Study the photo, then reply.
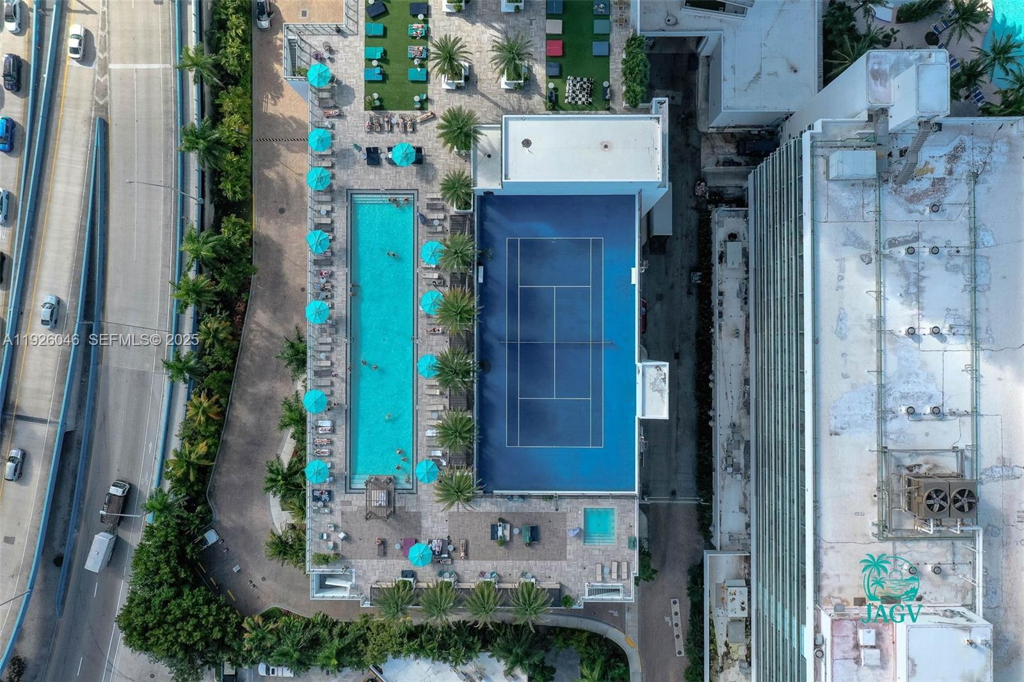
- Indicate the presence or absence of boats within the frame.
No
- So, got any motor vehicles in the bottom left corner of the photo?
Yes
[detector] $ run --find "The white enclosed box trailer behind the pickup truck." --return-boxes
[88,528,121,571]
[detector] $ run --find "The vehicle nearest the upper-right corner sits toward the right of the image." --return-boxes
[737,132,781,153]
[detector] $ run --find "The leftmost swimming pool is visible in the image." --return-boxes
[346,190,418,494]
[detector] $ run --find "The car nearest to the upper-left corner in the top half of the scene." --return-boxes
[2,0,23,33]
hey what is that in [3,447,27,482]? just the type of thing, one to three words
car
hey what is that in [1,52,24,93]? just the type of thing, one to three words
car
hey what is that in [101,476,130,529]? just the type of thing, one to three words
truck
